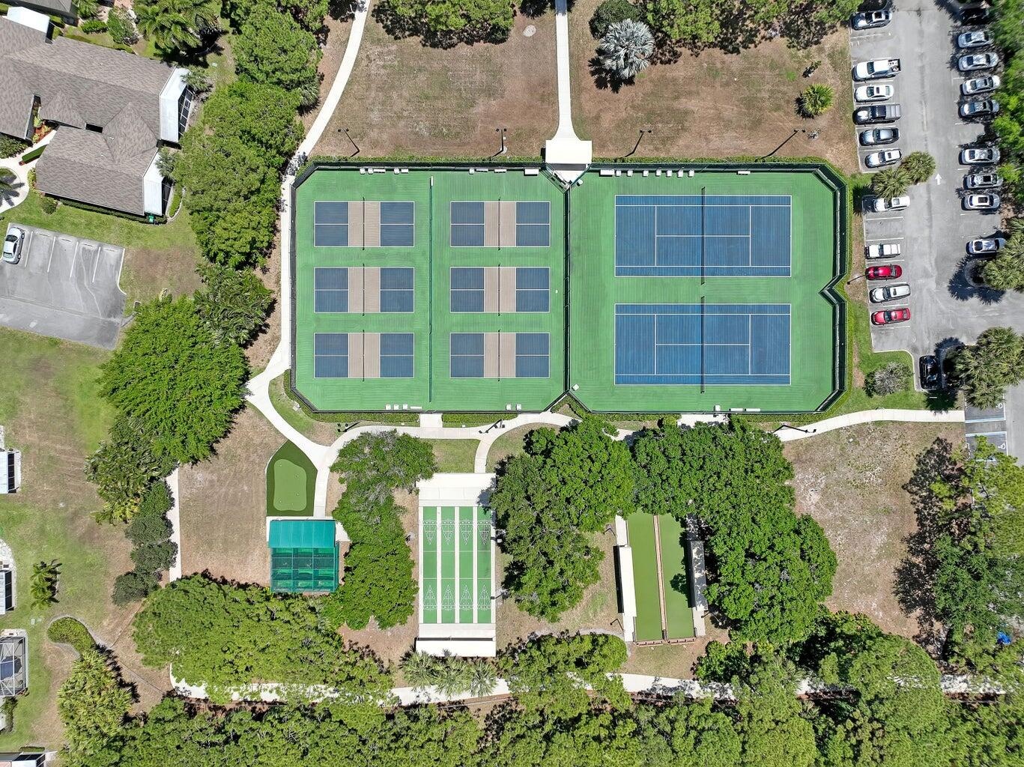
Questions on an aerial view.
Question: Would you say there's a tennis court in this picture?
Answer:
Yes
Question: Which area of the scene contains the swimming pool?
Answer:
bottom left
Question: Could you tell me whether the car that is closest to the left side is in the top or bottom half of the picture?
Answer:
top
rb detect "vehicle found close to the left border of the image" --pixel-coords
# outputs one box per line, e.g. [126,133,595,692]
[2,226,27,263]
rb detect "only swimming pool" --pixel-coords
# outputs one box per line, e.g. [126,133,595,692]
[0,656,21,678]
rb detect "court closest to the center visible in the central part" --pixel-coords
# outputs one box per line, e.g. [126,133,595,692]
[450,333,550,378]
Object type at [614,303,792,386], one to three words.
tennis court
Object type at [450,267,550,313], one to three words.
sports court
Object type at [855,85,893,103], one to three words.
car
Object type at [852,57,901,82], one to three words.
truck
